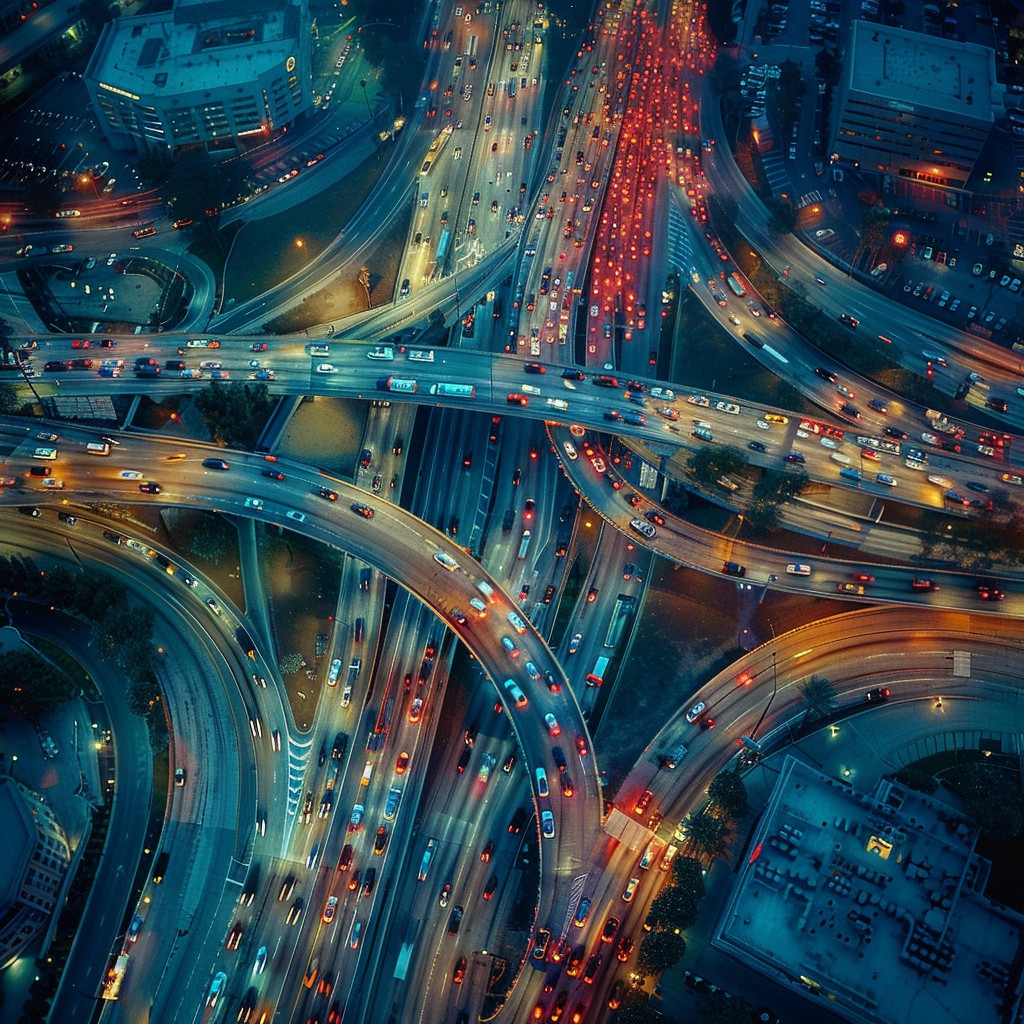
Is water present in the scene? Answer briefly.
No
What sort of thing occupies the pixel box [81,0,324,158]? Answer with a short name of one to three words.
building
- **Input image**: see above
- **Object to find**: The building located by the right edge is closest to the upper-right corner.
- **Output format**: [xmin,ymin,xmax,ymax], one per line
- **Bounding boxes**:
[828,16,1015,194]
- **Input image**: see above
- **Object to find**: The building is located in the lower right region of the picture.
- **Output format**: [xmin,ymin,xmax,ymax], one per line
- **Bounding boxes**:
[705,752,1024,1024]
